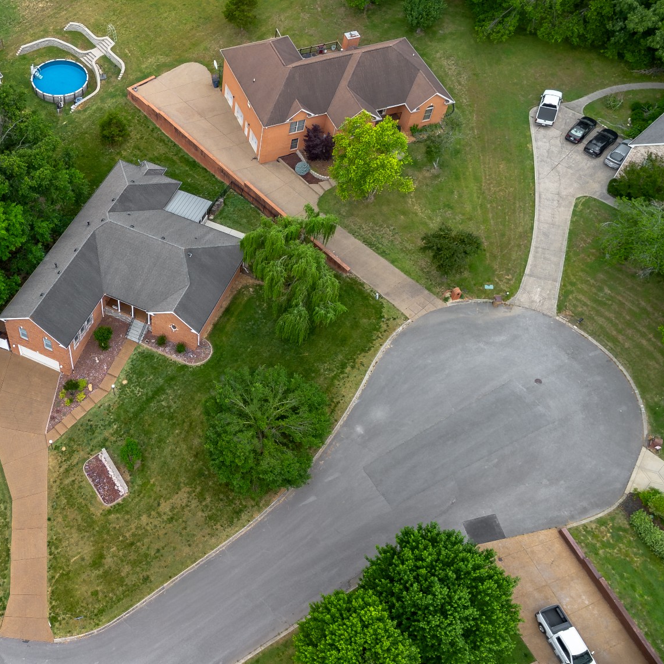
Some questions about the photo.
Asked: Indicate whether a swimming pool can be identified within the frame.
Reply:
Yes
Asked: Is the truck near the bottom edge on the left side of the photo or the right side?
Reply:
right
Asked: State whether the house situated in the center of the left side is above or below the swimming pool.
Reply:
below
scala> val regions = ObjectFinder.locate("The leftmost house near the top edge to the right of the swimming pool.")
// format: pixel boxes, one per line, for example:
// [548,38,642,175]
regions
[220,29,455,160]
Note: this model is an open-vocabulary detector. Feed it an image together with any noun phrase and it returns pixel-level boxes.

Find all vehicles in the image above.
[534,88,563,129]
[581,126,623,159]
[563,115,600,145]
[535,601,597,664]
[604,136,634,170]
